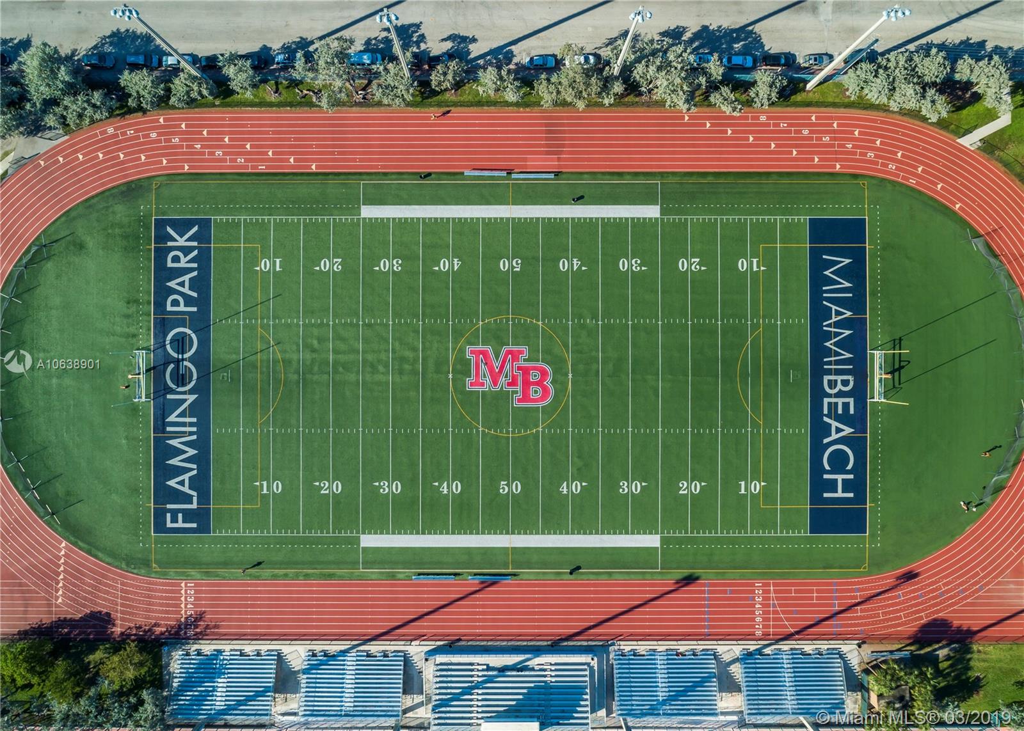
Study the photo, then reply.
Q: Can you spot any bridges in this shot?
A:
No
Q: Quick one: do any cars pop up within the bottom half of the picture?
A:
No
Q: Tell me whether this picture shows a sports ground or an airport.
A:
sports ground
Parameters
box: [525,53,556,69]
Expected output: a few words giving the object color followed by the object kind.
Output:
blue car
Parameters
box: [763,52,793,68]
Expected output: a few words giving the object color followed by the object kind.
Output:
black car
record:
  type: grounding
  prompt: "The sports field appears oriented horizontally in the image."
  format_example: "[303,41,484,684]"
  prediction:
[0,172,1024,580]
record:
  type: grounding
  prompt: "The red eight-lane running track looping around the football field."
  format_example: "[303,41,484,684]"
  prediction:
[0,111,1024,641]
